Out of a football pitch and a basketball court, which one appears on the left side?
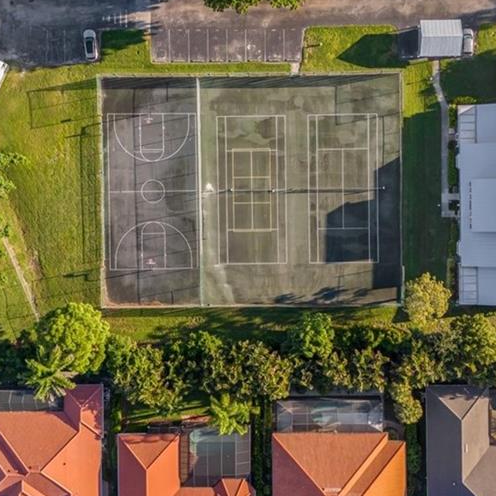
basketball court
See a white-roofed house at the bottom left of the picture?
No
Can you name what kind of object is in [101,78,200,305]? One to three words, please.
basketball court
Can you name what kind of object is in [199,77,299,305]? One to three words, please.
tennis court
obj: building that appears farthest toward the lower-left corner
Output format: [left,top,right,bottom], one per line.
[0,385,103,496]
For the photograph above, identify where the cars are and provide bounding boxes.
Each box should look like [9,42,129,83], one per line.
[83,29,99,62]
[462,26,476,58]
